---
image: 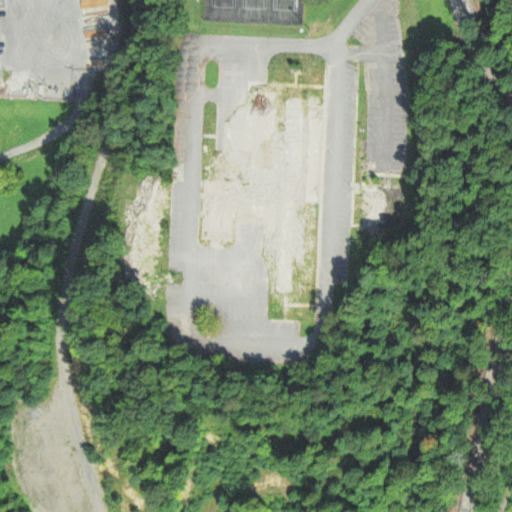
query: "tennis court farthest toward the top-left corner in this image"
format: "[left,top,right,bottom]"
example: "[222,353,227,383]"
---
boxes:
[204,0,240,23]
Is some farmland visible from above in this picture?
No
